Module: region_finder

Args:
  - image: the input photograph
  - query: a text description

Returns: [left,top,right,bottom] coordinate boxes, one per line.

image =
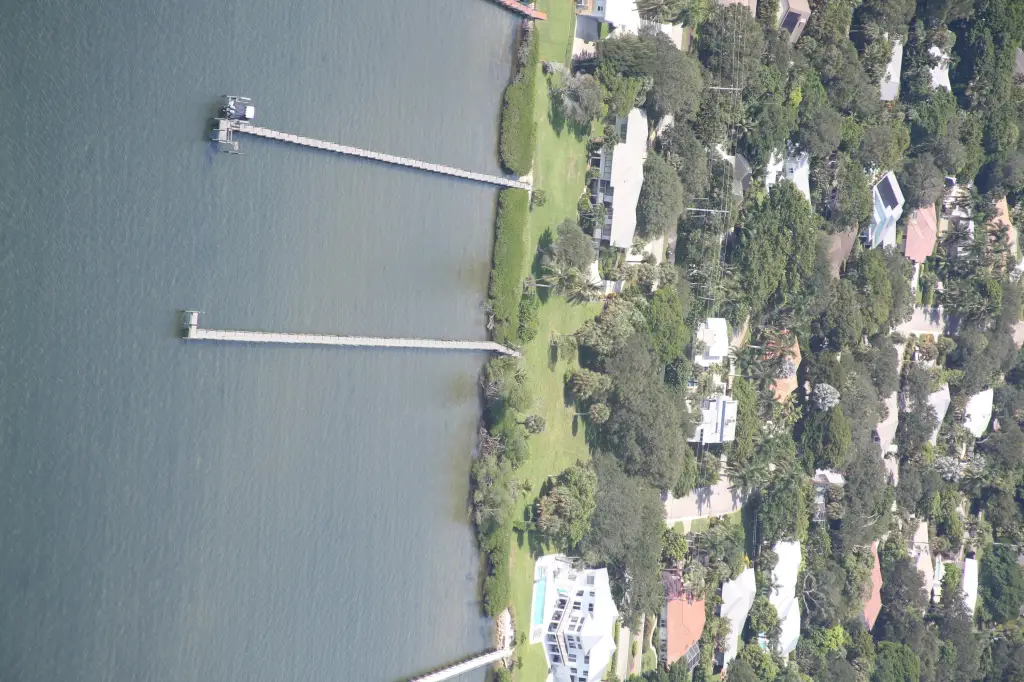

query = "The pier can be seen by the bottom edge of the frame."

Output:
[388,645,512,682]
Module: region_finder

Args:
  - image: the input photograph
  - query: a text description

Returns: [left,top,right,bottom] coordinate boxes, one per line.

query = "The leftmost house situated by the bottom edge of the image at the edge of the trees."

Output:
[531,554,620,682]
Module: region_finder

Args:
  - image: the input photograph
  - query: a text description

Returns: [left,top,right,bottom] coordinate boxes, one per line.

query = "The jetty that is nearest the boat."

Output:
[210,118,533,191]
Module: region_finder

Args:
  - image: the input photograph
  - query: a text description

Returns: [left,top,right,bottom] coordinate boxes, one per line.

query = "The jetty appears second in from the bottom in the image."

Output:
[180,311,521,359]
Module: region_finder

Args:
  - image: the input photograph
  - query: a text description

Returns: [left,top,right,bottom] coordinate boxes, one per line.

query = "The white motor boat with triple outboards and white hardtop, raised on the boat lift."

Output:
[221,101,255,118]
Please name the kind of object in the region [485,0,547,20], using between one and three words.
pier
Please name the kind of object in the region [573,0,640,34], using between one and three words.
house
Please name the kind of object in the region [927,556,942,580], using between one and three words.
building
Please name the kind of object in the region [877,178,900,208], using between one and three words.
solar panel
